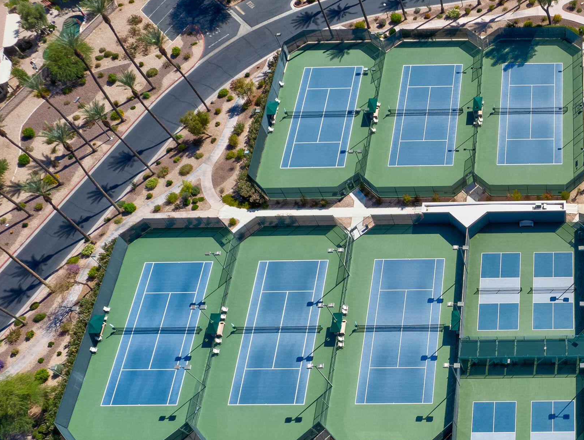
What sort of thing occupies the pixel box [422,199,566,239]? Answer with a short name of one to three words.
building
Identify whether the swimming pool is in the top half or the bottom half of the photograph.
top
